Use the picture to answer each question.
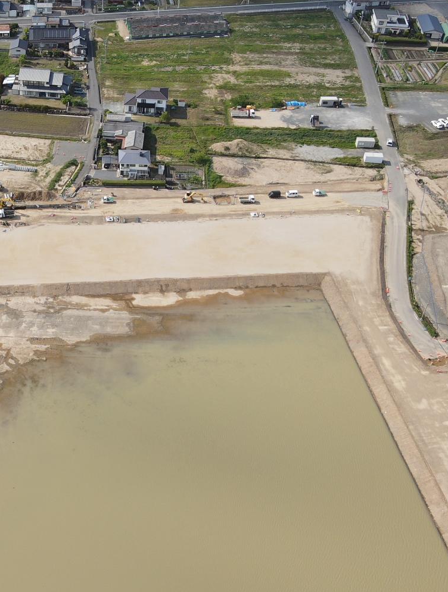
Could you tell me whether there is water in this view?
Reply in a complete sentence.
Yes, the picture does contain water.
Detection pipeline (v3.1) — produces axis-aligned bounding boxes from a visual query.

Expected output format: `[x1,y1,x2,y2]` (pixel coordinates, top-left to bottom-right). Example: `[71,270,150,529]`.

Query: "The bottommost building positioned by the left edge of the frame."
[8,65,73,100]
